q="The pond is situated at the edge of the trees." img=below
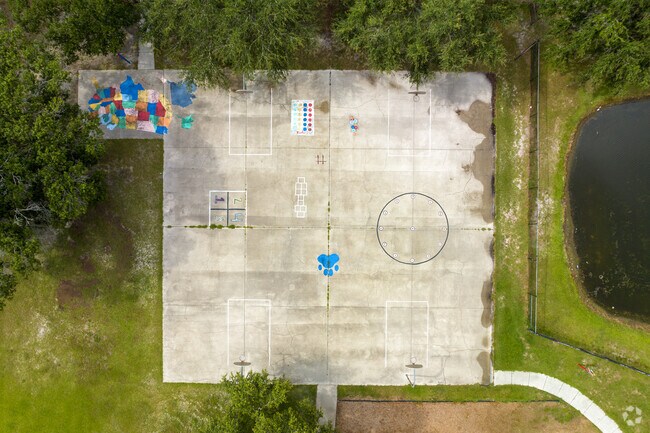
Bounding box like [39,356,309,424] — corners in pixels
[565,102,650,325]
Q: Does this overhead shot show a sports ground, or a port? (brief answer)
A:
sports ground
